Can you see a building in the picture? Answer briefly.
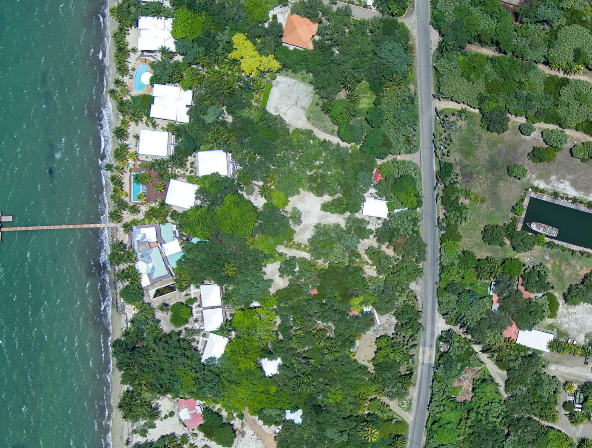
Yes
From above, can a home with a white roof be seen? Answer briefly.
Yes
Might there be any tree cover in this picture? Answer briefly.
Yes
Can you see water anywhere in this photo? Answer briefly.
Yes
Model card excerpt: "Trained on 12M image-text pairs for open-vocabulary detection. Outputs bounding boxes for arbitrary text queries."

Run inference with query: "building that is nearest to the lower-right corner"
[517,329,554,353]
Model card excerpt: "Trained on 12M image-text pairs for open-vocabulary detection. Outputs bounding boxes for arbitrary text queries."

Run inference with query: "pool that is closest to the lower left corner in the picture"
[151,283,179,298]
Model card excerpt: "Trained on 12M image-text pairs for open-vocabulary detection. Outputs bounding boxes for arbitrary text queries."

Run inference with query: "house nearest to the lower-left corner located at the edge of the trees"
[179,398,205,429]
